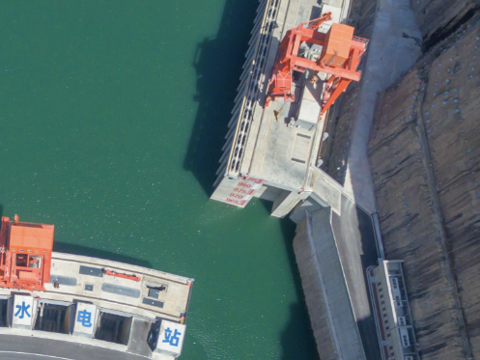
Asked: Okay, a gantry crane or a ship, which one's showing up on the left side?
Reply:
gantry crane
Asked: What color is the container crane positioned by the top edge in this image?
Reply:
red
